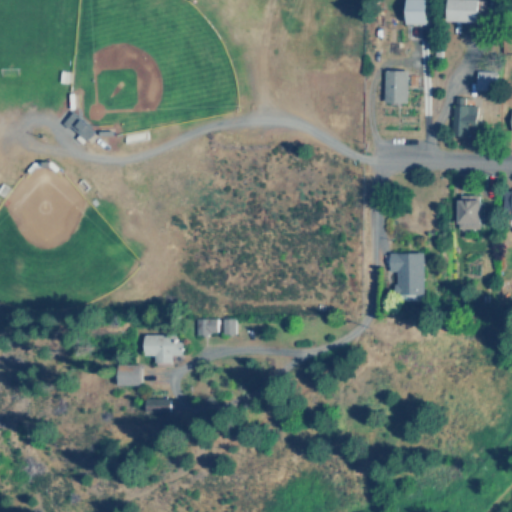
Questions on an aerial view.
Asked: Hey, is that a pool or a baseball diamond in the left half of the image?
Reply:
baseball diamond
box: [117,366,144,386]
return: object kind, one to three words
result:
building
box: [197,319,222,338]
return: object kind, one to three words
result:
house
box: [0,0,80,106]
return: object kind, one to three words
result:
soccer field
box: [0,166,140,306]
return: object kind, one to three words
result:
baseball field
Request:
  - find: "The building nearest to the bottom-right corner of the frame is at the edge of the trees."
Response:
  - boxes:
[390,253,426,300]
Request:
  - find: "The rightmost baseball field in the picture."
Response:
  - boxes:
[77,0,239,128]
